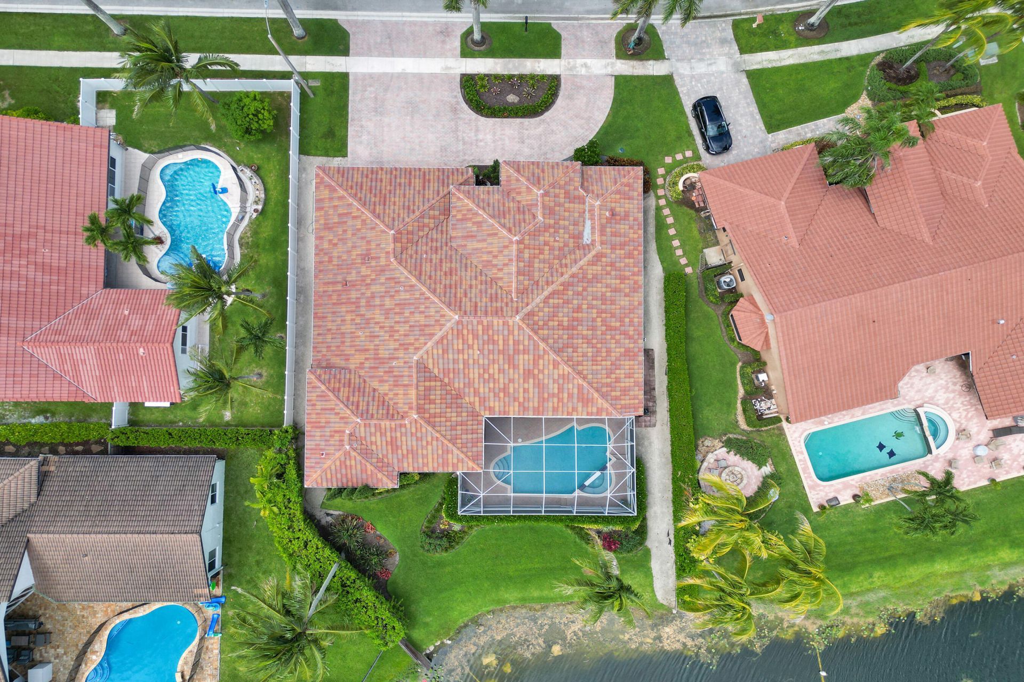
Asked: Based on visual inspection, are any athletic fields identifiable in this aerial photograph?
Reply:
No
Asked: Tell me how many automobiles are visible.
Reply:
1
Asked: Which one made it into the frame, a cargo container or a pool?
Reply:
pool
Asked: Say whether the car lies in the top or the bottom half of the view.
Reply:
top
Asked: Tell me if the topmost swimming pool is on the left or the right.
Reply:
left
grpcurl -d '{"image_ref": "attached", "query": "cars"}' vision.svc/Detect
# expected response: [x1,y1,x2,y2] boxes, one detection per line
[691,90,732,158]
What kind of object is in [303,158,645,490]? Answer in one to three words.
house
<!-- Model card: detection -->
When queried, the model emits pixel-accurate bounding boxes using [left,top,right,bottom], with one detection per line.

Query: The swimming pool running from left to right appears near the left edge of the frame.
[9,584,222,682]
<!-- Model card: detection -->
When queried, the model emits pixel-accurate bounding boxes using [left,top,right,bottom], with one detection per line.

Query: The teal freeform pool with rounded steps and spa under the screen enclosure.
[462,416,629,505]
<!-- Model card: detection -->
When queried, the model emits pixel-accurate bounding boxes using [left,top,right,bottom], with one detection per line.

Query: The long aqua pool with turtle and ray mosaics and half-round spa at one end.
[781,356,1024,514]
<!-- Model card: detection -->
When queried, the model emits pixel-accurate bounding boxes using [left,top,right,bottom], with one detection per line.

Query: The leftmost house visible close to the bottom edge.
[0,452,225,682]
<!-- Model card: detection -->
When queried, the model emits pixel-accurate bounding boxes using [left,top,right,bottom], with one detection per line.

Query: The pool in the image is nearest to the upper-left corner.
[118,142,252,376]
